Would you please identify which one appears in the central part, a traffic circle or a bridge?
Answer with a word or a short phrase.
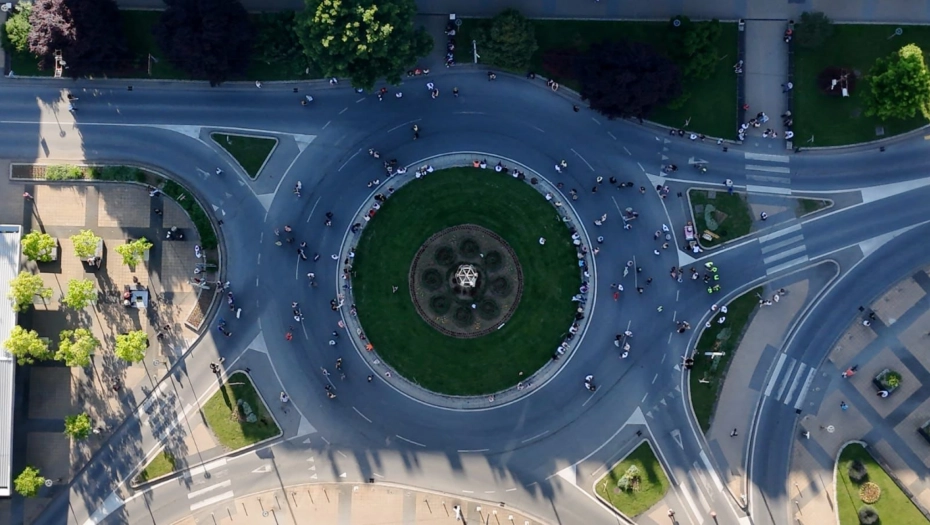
traffic circle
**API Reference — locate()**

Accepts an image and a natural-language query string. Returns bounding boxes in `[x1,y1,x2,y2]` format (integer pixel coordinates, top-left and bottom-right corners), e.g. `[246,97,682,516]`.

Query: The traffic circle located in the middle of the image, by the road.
[259,73,676,490]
